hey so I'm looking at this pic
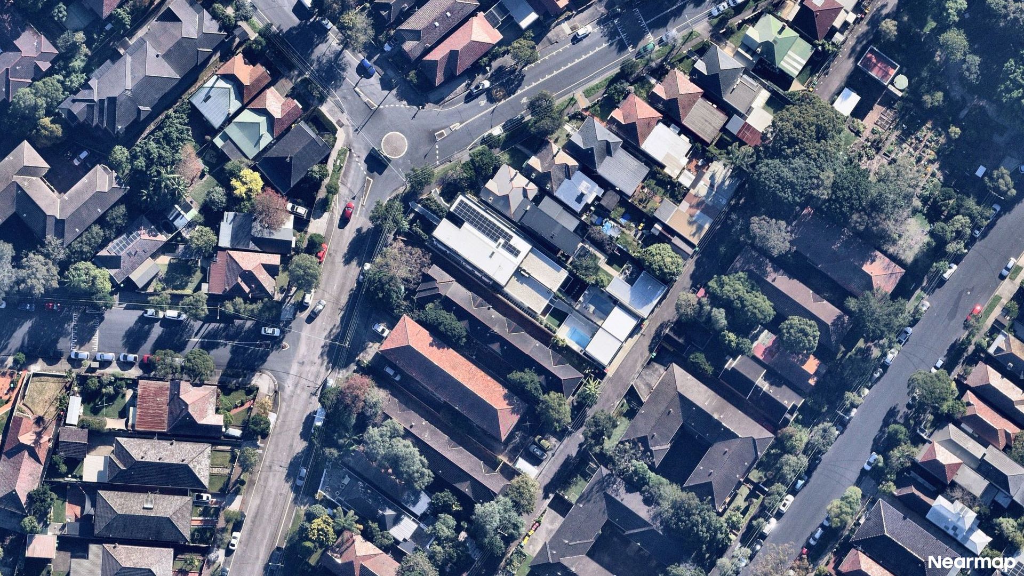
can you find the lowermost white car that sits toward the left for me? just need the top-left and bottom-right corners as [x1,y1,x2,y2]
[228,530,241,551]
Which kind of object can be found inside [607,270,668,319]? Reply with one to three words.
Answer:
building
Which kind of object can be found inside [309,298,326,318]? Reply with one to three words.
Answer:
car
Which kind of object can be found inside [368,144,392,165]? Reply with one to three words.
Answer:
truck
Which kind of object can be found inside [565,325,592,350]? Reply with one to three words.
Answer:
swimming pool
